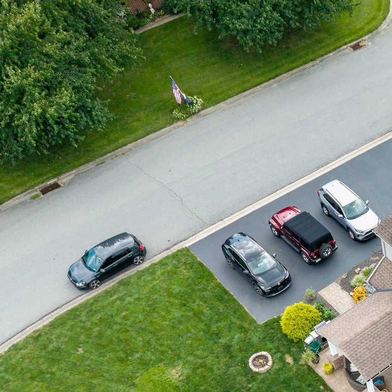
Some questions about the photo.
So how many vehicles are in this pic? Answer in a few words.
four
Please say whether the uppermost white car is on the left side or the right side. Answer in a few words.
right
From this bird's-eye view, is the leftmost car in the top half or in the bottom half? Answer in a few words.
bottom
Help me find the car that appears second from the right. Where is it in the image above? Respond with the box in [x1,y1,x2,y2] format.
[267,205,340,265]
